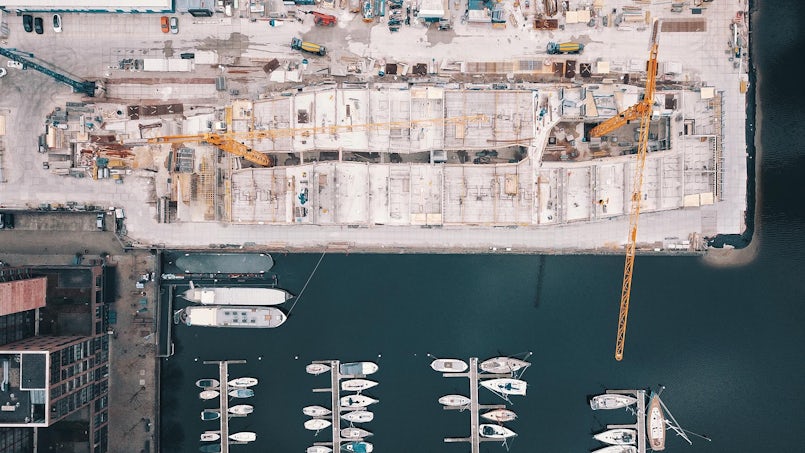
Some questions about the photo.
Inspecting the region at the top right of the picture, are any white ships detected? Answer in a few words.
No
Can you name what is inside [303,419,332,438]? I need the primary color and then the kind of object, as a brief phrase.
white boat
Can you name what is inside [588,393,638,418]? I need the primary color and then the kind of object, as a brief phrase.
white boat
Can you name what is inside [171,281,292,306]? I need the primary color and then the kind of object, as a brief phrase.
white ship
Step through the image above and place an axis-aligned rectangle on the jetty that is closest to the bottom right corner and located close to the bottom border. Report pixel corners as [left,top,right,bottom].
[605,388,649,453]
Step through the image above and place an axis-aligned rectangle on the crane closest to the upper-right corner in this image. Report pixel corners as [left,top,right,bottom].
[579,20,662,362]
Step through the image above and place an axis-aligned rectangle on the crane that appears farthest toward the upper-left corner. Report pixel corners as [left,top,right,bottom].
[0,38,107,100]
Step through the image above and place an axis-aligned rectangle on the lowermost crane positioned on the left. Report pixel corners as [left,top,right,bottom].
[145,114,490,165]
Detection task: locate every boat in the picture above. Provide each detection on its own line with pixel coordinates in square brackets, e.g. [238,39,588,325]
[199,389,219,403]
[341,378,379,398]
[340,427,375,448]
[588,393,638,418]
[340,440,374,453]
[303,406,332,424]
[227,377,259,392]
[306,363,331,378]
[200,411,220,421]
[227,404,255,421]
[340,411,374,432]
[303,419,332,438]
[430,357,469,372]
[439,394,472,413]
[199,443,220,453]
[338,361,379,376]
[479,378,528,405]
[175,307,286,329]
[340,392,380,414]
[307,445,333,453]
[479,357,531,381]
[200,432,220,442]
[197,378,220,387]
[480,408,518,431]
[228,389,255,399]
[478,424,518,449]
[592,428,638,453]
[228,431,257,449]
[645,390,688,451]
